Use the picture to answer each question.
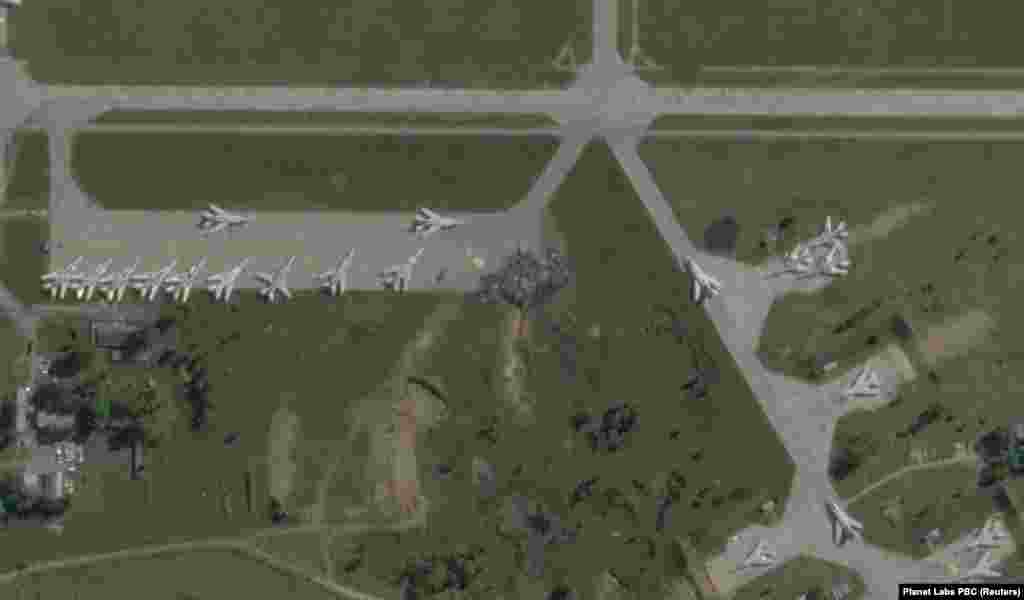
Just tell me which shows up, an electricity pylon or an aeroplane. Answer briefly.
aeroplane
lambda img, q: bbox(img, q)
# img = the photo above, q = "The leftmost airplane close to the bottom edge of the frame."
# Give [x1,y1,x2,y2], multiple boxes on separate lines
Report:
[734,537,780,571]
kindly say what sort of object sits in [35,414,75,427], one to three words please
house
